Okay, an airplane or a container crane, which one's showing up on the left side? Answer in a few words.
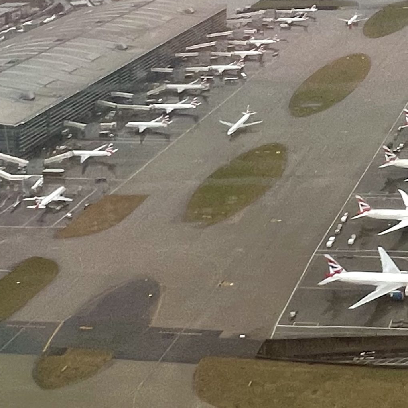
airplane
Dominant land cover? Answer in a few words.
paved ground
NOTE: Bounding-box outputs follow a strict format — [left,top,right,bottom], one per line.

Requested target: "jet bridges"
[262,19,277,26]
[0,168,29,187]
[207,30,233,41]
[235,9,264,16]
[210,53,235,61]
[151,68,174,77]
[96,99,155,113]
[26,178,46,193]
[185,67,214,75]
[62,120,88,132]
[110,91,134,104]
[228,41,251,49]
[146,83,171,96]
[0,152,32,171]
[43,148,79,166]
[186,41,216,53]
[175,53,199,62]
[227,18,253,27]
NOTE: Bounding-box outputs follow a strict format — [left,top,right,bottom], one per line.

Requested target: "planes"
[231,46,265,57]
[354,188,408,236]
[319,248,408,312]
[248,34,279,46]
[168,77,213,94]
[292,5,318,13]
[379,146,408,168]
[75,143,120,162]
[152,95,202,113]
[343,13,366,23]
[277,13,310,23]
[210,60,248,72]
[220,104,263,136]
[29,187,69,206]
[125,115,173,132]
